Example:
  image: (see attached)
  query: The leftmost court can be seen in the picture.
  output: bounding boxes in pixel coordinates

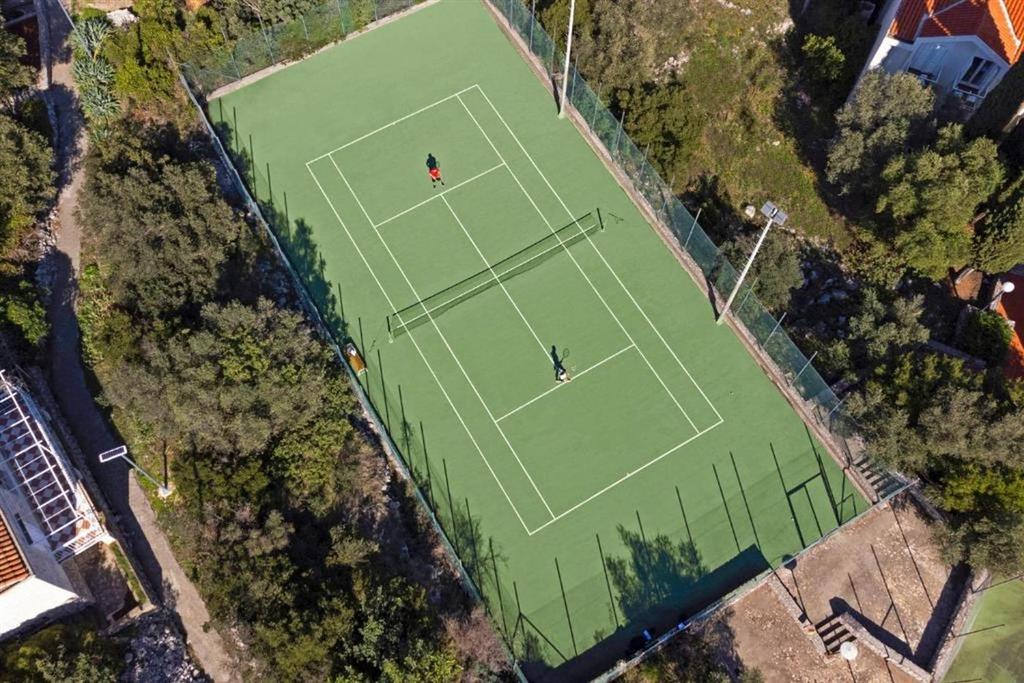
[198,0,870,683]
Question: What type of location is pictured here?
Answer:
sports ground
